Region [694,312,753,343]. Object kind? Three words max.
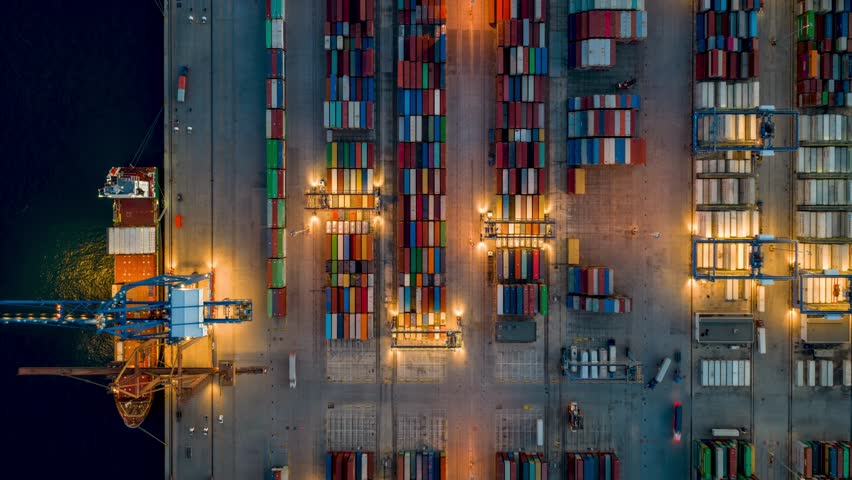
building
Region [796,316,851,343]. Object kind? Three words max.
building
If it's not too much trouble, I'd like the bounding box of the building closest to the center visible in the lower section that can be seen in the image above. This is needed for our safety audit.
[494,319,536,343]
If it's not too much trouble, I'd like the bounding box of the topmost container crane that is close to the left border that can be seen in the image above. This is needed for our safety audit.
[0,265,254,346]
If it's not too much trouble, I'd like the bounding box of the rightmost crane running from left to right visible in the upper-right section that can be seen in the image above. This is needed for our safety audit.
[691,105,798,157]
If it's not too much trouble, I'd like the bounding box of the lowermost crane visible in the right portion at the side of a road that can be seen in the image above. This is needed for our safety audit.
[561,346,641,381]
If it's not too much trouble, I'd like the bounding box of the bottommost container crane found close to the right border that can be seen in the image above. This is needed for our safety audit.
[790,260,852,319]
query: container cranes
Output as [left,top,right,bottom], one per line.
[691,227,798,285]
[561,346,641,381]
[479,214,556,242]
[790,260,852,319]
[18,329,265,398]
[389,317,462,354]
[305,186,381,215]
[691,105,798,157]
[0,265,254,346]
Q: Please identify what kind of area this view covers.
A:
port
